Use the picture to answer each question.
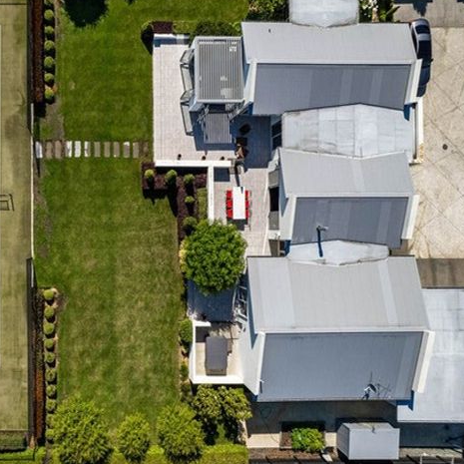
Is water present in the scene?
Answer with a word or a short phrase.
No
